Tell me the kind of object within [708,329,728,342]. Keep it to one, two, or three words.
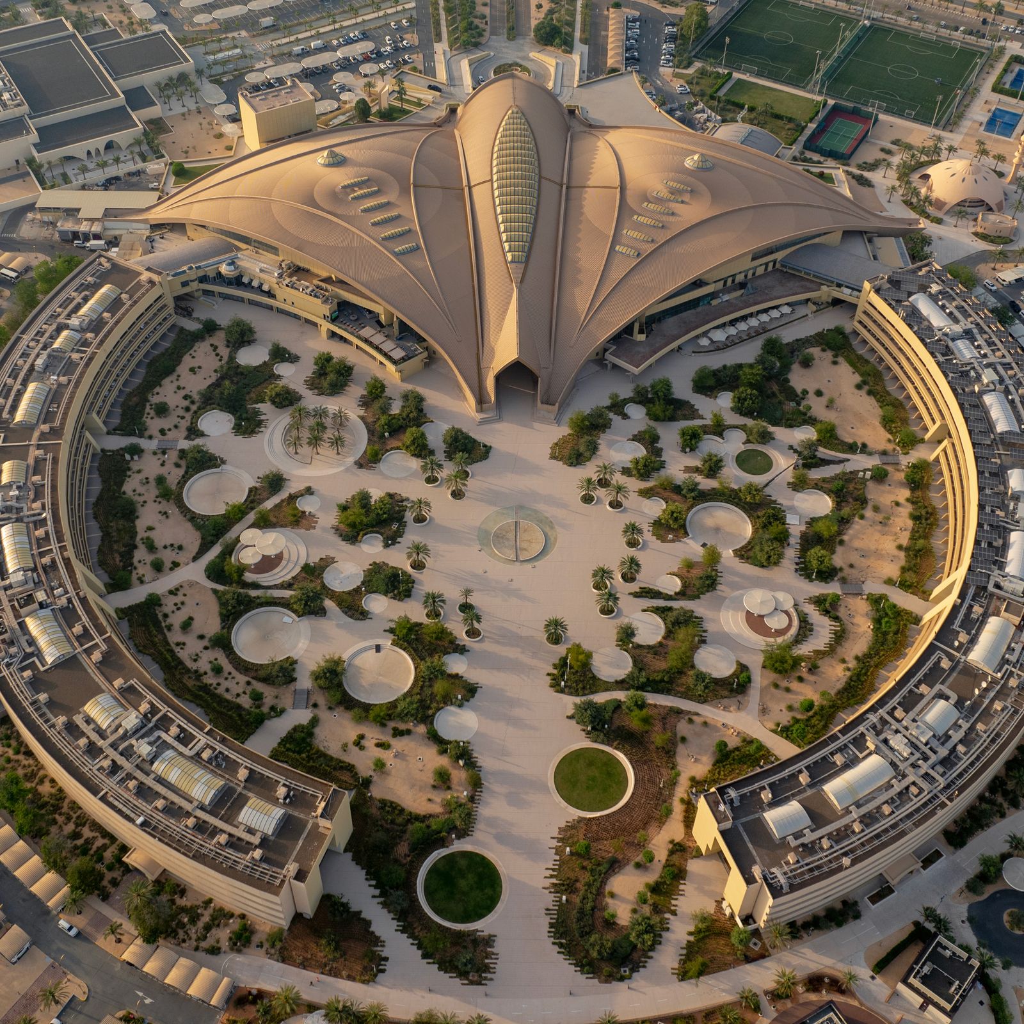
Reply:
umbrella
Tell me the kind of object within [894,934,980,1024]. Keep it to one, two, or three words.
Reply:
building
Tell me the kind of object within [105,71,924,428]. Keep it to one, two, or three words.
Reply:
building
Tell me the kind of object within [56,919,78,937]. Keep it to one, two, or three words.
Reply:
car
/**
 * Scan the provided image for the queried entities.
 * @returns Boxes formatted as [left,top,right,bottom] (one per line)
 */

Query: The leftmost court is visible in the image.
[808,104,873,152]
